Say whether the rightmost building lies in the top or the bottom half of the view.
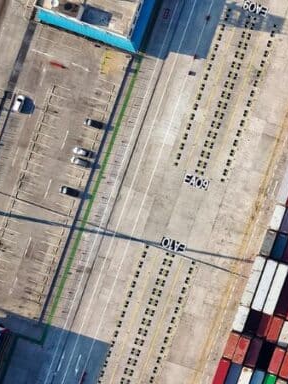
top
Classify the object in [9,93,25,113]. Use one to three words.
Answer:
car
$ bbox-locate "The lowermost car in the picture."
[59,185,78,197]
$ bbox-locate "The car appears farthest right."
[83,119,103,131]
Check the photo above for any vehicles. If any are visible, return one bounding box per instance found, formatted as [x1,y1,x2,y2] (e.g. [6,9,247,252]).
[71,144,90,157]
[9,93,25,113]
[69,155,88,167]
[59,185,78,197]
[83,119,103,131]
